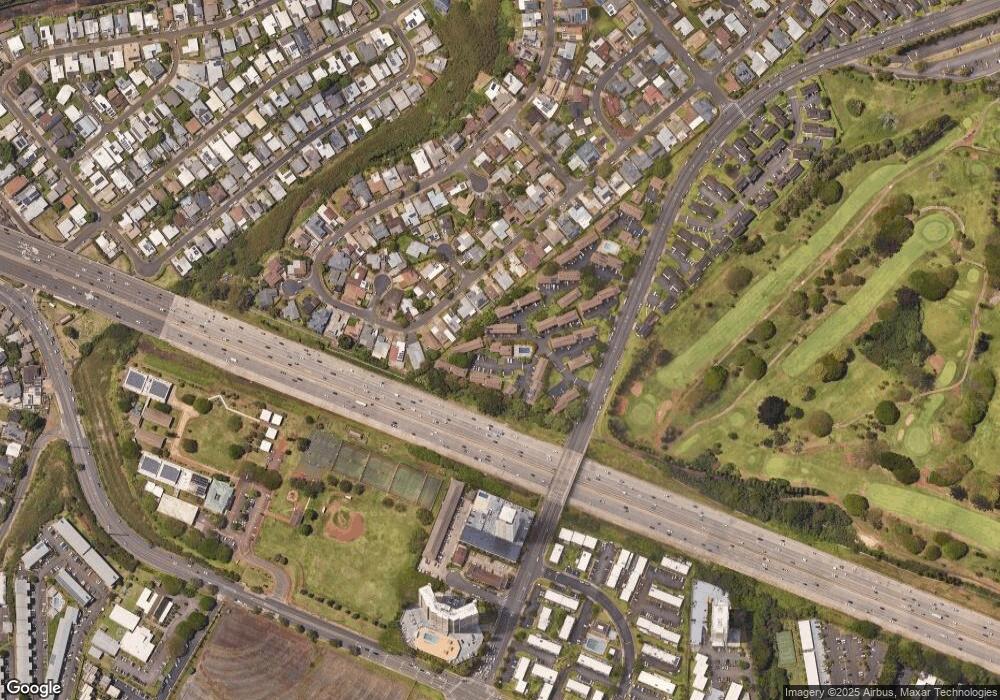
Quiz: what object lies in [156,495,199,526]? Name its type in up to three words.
building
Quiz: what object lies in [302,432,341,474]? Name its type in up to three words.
basketball court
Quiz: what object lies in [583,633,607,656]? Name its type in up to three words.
swimming pool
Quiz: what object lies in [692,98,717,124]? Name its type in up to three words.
house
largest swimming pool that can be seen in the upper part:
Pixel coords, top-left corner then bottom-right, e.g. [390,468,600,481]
[598,238,618,256]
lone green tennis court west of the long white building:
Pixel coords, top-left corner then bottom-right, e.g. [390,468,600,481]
[776,630,797,664]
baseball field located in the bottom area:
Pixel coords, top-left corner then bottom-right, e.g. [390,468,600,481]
[325,498,365,542]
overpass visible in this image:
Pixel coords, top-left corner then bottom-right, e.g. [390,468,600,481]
[538,436,590,514]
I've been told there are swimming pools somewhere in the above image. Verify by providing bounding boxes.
[598,238,618,256]
[517,345,531,356]
[424,633,439,644]
[583,633,607,656]
[49,593,64,611]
